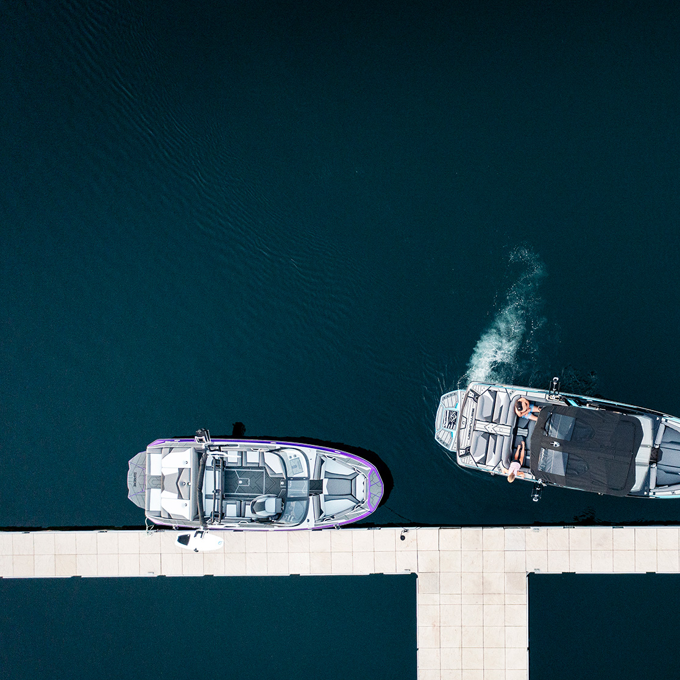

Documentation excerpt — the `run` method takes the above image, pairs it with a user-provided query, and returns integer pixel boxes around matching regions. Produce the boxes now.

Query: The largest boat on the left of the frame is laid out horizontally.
[127,429,385,537]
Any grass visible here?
No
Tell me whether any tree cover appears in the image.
No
